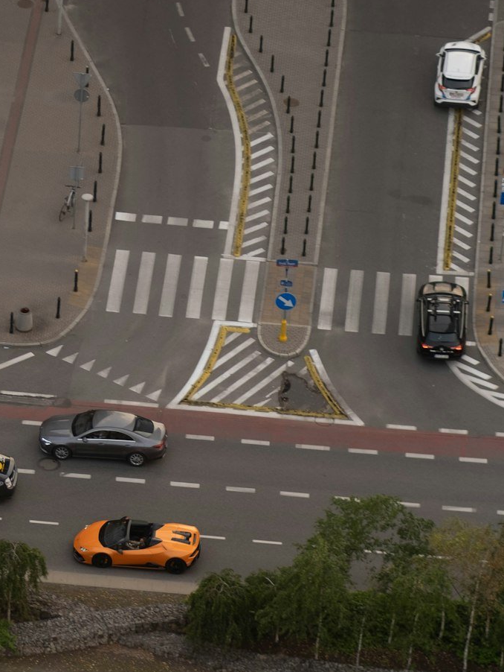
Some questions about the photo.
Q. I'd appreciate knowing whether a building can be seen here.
No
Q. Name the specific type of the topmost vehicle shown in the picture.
automobile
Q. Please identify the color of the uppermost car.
white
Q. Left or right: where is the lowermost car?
left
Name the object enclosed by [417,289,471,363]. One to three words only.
car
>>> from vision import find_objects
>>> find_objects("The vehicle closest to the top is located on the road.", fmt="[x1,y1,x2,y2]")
[436,42,488,107]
